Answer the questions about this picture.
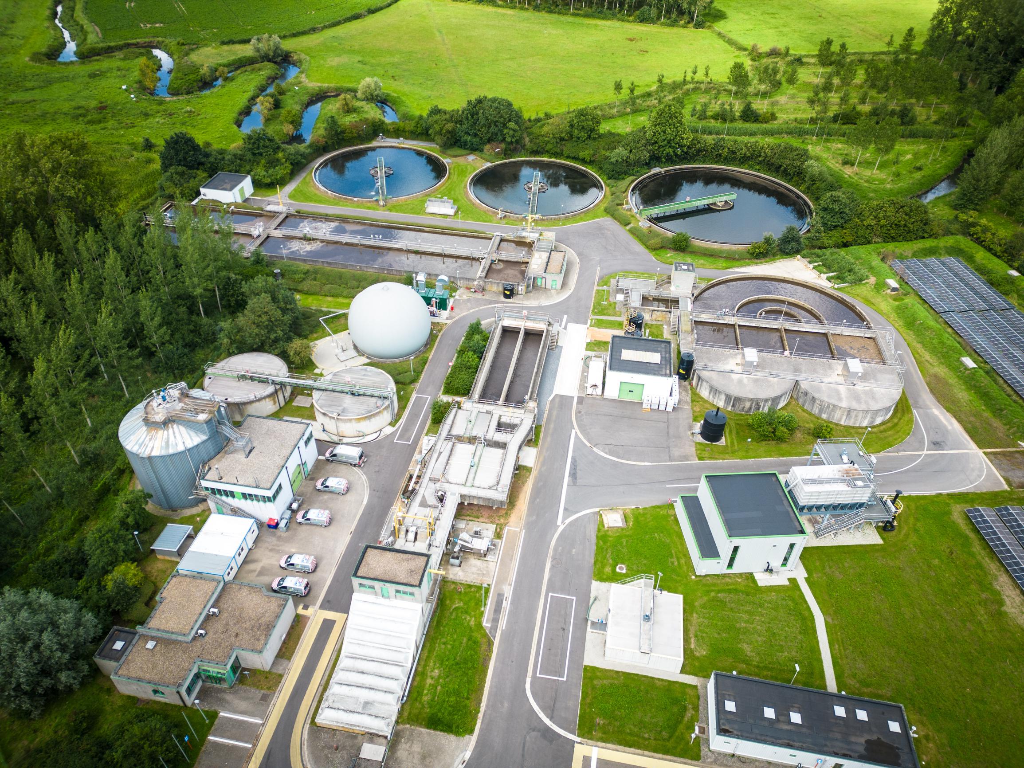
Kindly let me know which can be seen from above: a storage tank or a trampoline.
storage tank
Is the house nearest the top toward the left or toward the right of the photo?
left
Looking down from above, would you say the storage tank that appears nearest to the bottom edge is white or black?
white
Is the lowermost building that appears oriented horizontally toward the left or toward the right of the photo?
right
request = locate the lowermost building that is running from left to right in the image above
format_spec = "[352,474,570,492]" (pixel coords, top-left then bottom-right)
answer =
[709,671,917,768]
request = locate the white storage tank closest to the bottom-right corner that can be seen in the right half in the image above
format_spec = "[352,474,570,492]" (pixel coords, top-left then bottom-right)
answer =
[583,572,683,672]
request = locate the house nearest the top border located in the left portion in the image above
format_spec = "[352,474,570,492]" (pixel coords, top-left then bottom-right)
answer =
[200,172,253,202]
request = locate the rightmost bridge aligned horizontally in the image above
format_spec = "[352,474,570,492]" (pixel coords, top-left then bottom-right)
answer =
[639,190,738,216]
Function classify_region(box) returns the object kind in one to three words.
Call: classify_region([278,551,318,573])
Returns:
vehicle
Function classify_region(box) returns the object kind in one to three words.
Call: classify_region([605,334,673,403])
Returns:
building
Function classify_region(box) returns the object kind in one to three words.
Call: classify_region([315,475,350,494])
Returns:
vehicle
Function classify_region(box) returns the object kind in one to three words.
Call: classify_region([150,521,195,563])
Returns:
shed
